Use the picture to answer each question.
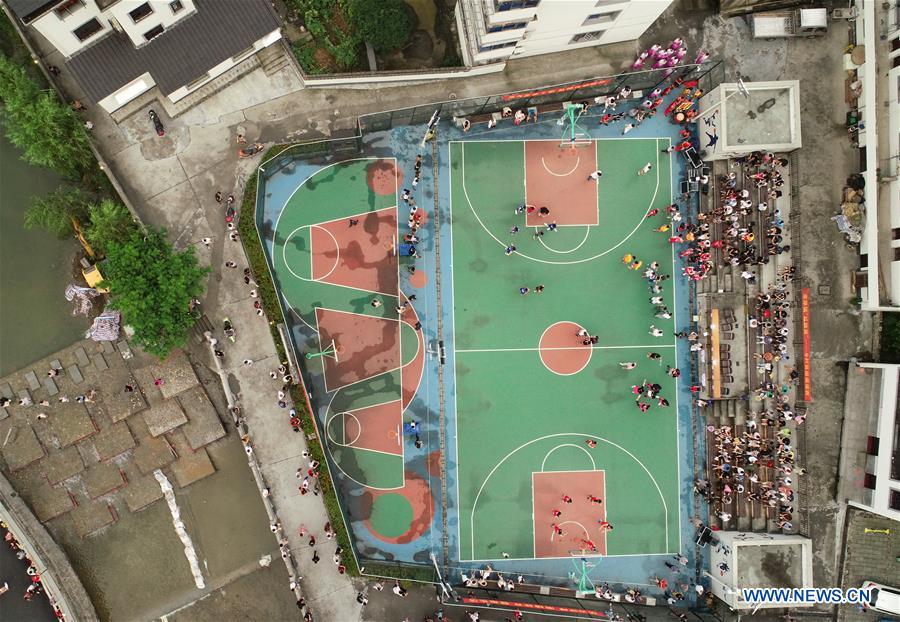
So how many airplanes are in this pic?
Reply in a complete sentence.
There are no airplanes in the image.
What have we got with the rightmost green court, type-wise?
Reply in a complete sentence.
In the photo, the rightmost green court shows up as a basketball court.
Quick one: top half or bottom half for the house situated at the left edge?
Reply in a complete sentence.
The top half of the photo is where the house situated at the left edge is.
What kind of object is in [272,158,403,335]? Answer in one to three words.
basketball court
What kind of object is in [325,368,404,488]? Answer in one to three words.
basketball court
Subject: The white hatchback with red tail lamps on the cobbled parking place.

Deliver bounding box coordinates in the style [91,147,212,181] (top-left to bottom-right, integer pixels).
[856,577,900,614]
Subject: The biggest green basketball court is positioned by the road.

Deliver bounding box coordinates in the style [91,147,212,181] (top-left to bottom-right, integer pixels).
[450,136,682,561]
